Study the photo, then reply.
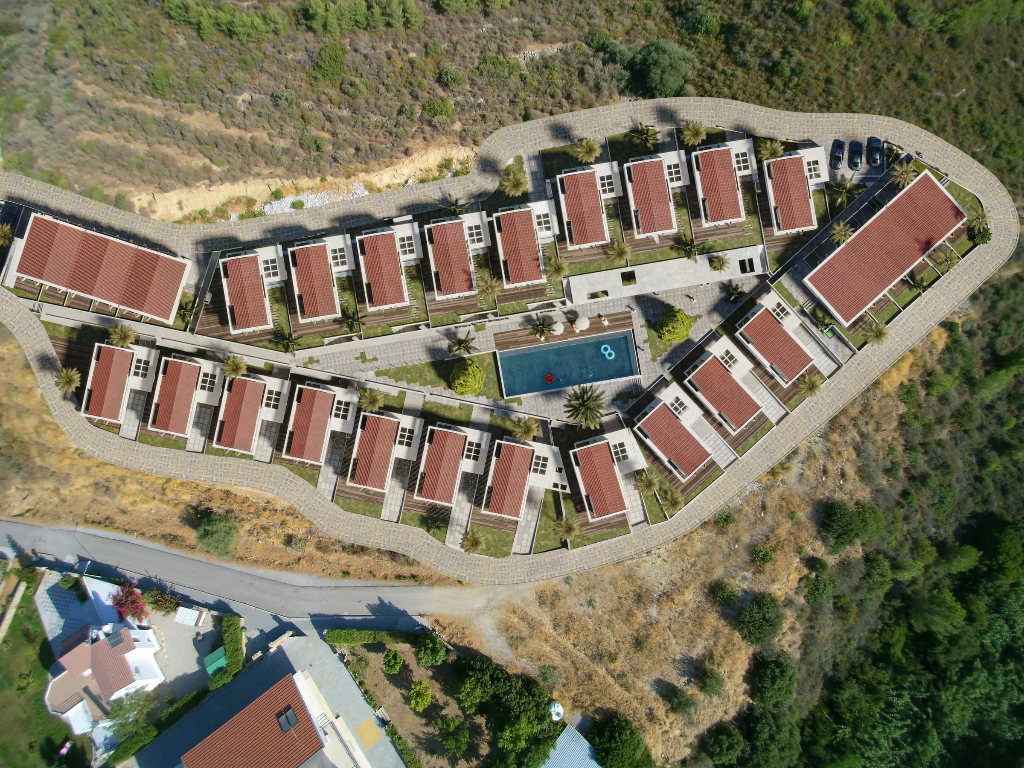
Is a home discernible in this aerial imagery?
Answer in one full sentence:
Yes, this view includes a home.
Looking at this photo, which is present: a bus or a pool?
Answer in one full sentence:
It is a pool that can be seen here.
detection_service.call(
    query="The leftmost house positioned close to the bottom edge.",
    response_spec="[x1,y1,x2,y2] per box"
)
[45,621,169,753]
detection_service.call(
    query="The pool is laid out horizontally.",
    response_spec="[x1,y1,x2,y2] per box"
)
[500,339,631,397]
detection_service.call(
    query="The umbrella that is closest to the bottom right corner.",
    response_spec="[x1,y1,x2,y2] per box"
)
[549,704,564,719]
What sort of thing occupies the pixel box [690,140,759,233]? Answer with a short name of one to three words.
house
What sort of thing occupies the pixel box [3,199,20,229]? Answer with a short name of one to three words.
car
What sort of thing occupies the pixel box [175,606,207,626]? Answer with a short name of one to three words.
shed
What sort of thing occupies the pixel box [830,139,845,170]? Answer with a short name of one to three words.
car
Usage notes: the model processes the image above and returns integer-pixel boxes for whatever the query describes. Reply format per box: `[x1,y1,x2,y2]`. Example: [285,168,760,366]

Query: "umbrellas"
[551,322,564,335]
[549,704,564,719]
[576,316,590,330]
